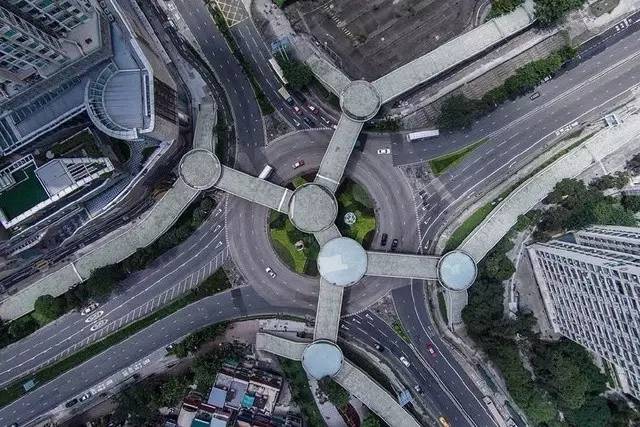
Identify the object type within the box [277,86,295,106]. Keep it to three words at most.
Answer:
vehicle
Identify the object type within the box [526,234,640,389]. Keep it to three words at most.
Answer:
building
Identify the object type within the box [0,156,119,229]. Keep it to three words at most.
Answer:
building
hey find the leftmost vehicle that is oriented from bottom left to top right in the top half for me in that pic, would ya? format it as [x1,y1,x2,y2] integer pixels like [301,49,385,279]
[258,161,278,179]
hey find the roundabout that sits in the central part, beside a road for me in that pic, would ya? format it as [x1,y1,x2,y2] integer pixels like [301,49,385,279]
[226,128,426,320]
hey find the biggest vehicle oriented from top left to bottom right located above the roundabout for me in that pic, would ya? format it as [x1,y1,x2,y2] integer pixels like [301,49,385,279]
[266,57,289,86]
